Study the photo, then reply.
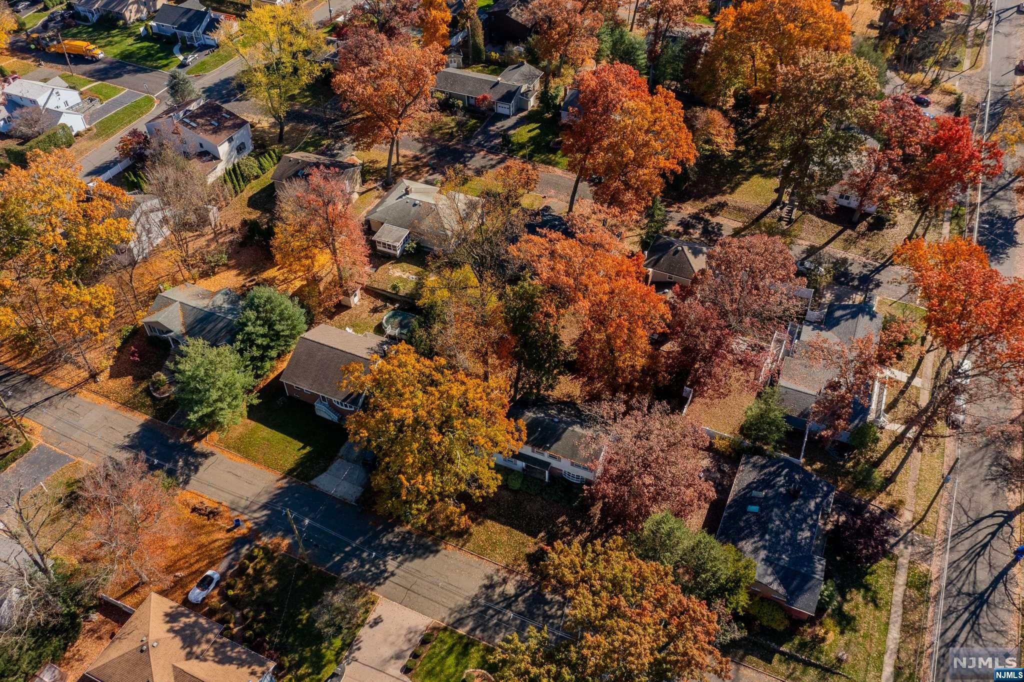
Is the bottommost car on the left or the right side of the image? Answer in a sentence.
It is on the left.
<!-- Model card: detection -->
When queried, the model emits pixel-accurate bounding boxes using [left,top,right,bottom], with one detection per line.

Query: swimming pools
[384,309,416,335]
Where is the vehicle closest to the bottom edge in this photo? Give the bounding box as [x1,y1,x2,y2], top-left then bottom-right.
[317,651,352,682]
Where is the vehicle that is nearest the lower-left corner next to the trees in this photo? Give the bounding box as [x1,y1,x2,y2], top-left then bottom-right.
[184,566,221,605]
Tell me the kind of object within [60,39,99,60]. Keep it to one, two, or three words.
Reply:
truck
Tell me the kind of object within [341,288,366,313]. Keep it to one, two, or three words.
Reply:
shed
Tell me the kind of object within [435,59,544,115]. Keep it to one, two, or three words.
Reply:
house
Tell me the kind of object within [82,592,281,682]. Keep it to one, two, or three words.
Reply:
house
